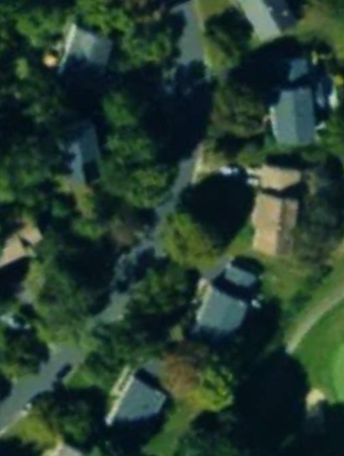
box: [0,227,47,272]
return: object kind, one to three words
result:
house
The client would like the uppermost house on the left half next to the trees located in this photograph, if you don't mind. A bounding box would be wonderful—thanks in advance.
[62,28,113,81]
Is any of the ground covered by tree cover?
Yes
